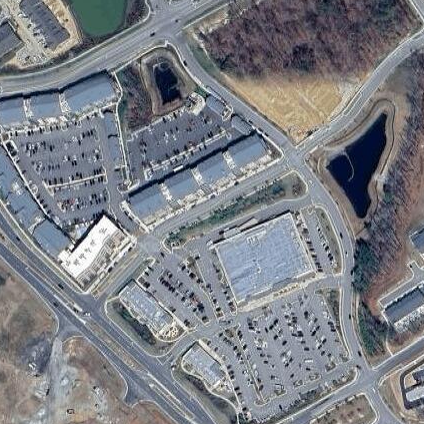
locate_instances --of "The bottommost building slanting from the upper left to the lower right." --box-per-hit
[184,342,227,388]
